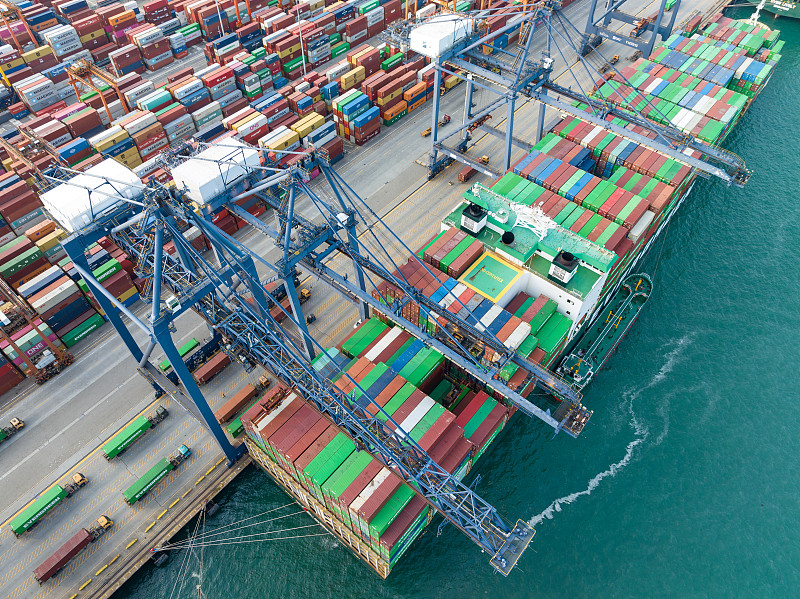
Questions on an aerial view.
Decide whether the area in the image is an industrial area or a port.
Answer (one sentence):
This looks like a port.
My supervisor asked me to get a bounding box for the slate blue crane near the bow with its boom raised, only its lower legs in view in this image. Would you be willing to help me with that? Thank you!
[566,0,684,69]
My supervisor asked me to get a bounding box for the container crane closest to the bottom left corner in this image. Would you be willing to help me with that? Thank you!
[0,284,70,385]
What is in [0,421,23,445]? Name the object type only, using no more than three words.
truck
